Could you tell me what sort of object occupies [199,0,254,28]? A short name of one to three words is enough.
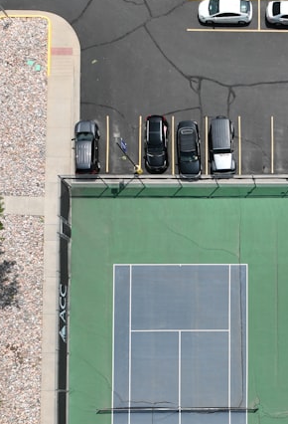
car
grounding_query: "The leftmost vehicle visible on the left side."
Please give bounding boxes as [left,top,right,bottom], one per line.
[71,121,103,179]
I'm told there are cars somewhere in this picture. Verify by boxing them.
[71,121,103,179]
[199,0,254,28]
[264,2,288,29]
[140,116,170,175]
[207,116,237,177]
[174,123,202,179]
